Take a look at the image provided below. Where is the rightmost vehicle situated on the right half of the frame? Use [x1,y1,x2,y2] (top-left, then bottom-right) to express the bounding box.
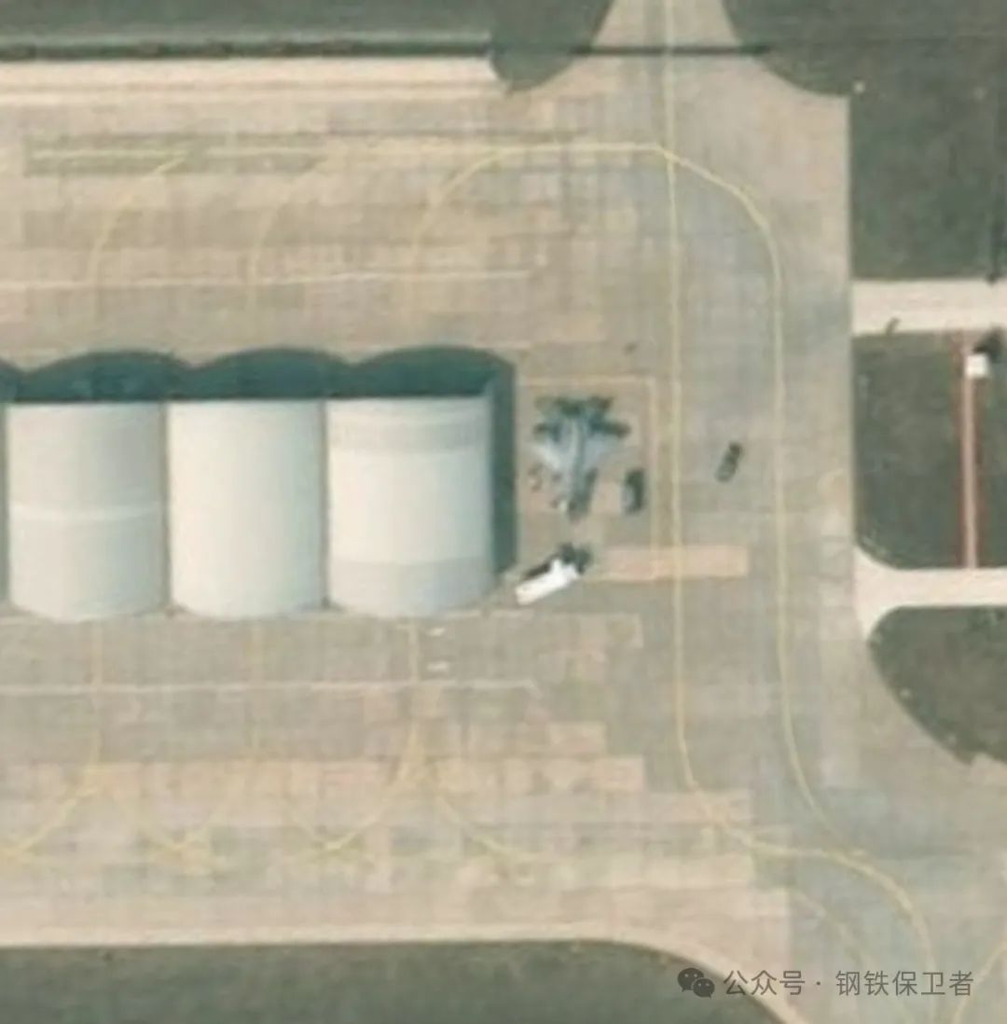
[718,447,741,481]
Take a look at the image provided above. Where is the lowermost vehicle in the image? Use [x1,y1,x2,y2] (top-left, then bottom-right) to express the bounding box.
[515,552,583,603]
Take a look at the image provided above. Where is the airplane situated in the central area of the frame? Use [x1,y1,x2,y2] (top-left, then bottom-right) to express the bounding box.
[534,407,619,524]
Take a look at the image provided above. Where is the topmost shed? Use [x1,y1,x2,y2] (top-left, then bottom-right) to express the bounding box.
[966,351,987,375]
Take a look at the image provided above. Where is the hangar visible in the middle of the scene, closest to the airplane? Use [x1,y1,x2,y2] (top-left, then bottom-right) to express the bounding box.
[326,391,493,614]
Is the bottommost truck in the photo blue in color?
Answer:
No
